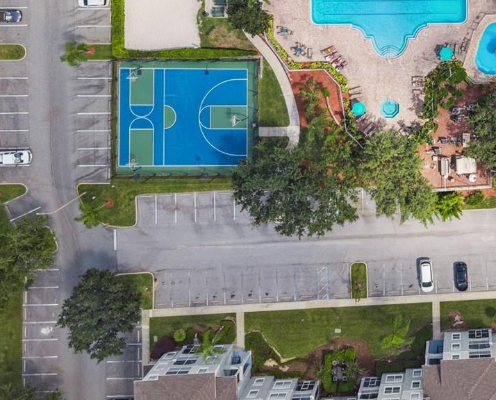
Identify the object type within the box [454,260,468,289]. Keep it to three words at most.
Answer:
car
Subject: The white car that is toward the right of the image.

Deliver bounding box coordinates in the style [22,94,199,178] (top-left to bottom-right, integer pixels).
[418,257,434,291]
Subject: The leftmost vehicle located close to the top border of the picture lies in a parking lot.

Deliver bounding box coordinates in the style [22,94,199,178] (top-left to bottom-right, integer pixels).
[0,9,23,23]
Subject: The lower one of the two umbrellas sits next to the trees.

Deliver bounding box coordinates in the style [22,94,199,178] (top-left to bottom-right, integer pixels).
[352,101,367,116]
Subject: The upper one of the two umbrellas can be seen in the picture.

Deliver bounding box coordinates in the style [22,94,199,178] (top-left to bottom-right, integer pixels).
[438,44,455,61]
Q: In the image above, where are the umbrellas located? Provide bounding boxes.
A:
[352,101,367,116]
[438,44,455,61]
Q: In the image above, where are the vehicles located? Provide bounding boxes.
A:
[418,257,434,291]
[0,150,31,167]
[454,260,468,289]
[0,9,23,23]
[81,0,110,9]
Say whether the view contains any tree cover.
Yes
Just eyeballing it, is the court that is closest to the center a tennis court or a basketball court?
basketball court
